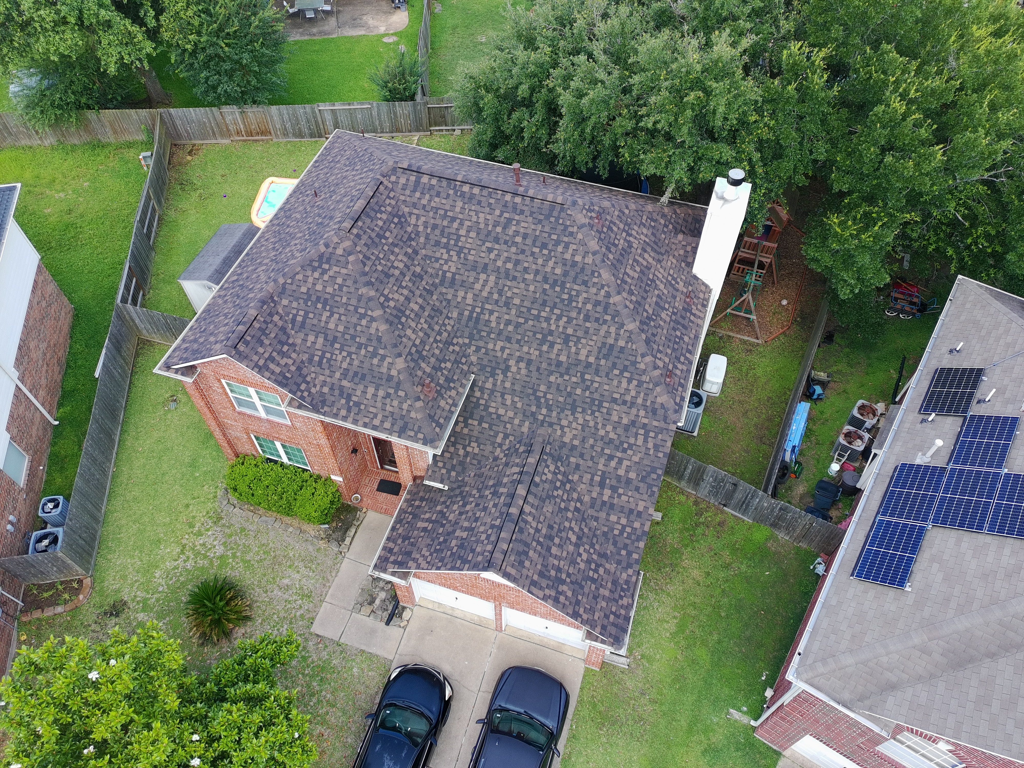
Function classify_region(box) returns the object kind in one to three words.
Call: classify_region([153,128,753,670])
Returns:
house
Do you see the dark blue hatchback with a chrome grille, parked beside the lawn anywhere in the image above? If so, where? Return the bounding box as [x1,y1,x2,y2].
[346,660,455,768]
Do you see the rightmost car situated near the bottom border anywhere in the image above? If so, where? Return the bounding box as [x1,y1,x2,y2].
[470,656,568,768]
